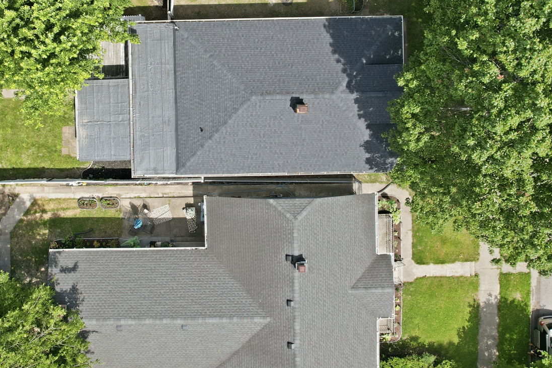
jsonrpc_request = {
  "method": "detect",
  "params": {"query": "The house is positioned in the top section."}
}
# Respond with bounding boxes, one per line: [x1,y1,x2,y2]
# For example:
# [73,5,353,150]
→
[77,14,406,178]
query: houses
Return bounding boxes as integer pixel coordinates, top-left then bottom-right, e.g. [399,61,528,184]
[77,14,406,178]
[38,193,406,368]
